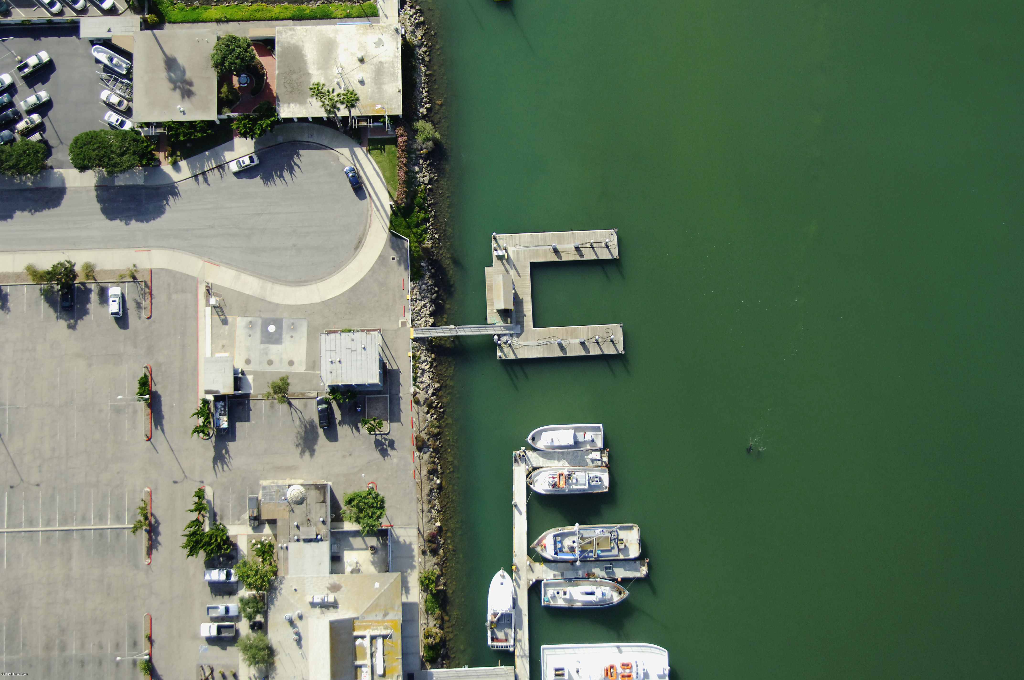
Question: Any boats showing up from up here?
Yes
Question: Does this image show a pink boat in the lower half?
No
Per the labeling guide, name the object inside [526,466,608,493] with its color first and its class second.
white boat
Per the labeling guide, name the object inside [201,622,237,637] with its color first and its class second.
white vehicle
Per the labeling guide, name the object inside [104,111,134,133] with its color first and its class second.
white car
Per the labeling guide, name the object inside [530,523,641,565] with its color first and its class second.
white boat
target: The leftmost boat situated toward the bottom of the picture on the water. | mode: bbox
[486,567,516,651]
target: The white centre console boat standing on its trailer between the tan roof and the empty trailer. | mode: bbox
[93,45,132,74]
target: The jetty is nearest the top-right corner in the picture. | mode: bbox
[485,229,624,360]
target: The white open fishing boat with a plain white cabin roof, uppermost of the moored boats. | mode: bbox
[525,424,603,450]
